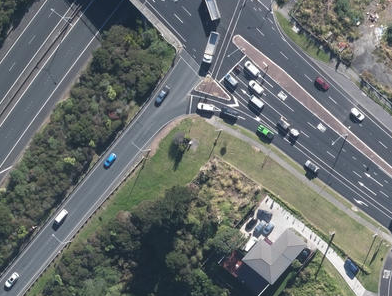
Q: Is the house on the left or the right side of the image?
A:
right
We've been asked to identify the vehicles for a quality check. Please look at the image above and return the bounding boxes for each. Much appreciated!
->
[220,106,238,118]
[314,77,330,91]
[4,273,18,288]
[256,124,274,138]
[350,107,365,122]
[262,222,274,235]
[54,208,70,224]
[156,86,170,102]
[250,94,266,109]
[276,116,292,130]
[304,160,320,173]
[249,80,264,95]
[298,248,310,262]
[252,220,266,234]
[244,61,260,76]
[104,153,117,166]
[224,73,239,86]
[256,210,272,220]
[244,217,258,232]
[344,260,358,274]
[203,32,218,63]
[198,103,214,110]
